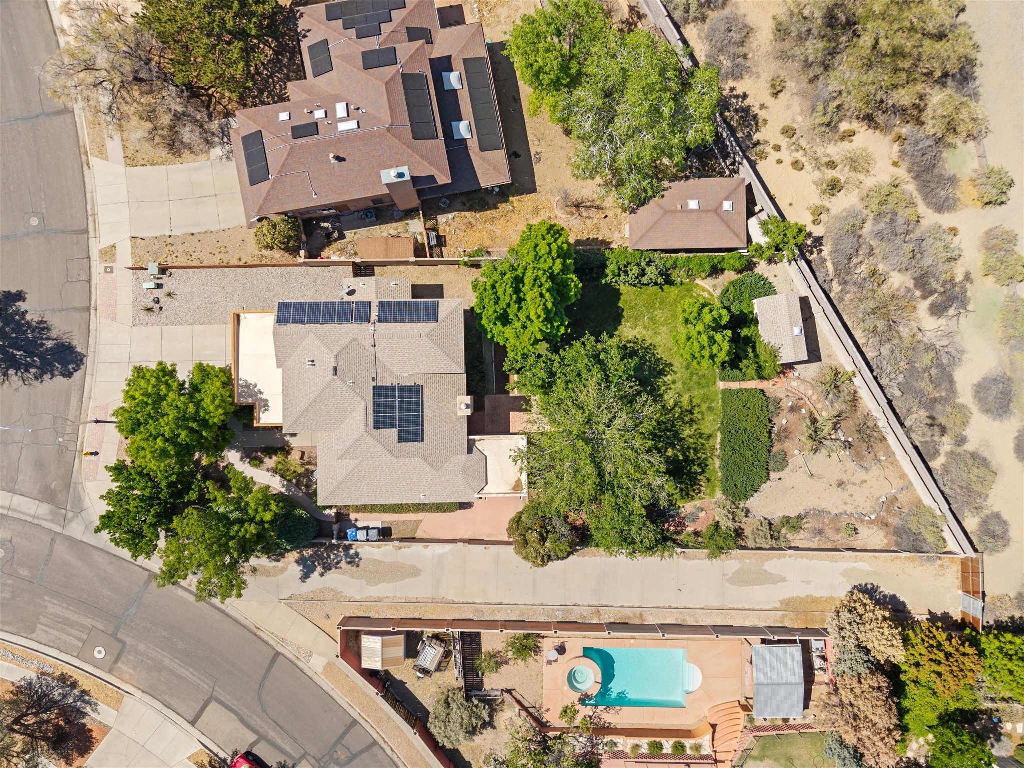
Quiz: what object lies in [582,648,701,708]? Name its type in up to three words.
swimming pool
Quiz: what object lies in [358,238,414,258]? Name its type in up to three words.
shed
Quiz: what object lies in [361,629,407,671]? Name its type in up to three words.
shed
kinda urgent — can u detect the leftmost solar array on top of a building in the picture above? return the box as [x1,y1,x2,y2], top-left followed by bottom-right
[242,131,270,185]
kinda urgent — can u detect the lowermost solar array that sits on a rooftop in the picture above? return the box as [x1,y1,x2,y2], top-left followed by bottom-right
[373,386,421,443]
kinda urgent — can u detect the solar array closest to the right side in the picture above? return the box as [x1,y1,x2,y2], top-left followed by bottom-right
[463,58,502,151]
